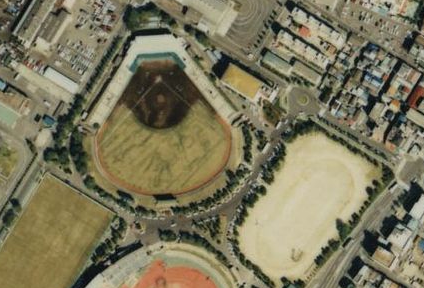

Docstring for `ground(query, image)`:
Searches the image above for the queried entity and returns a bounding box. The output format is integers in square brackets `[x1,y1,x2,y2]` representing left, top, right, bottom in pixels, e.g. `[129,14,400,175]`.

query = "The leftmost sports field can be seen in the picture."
[0,171,120,288]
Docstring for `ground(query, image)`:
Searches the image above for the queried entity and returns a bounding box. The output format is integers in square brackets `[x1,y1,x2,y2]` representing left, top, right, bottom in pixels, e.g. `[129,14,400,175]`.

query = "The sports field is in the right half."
[239,132,382,283]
